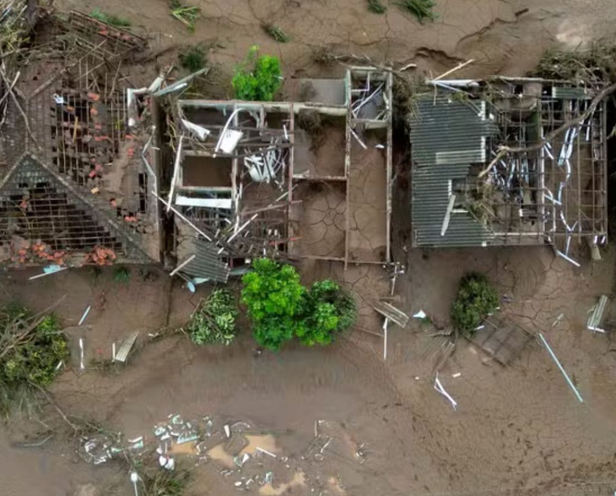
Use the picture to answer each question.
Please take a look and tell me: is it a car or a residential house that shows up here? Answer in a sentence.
Of the two, only a residential house appears.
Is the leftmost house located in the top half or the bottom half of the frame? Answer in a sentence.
You can find the leftmost house in the top half.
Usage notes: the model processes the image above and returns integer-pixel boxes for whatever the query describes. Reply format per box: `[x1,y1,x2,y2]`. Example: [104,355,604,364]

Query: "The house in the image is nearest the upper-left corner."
[0,10,160,264]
